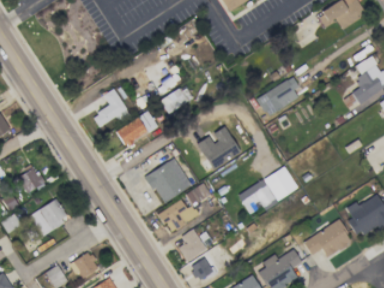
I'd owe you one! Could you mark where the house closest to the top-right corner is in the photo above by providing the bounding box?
[320,0,364,30]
